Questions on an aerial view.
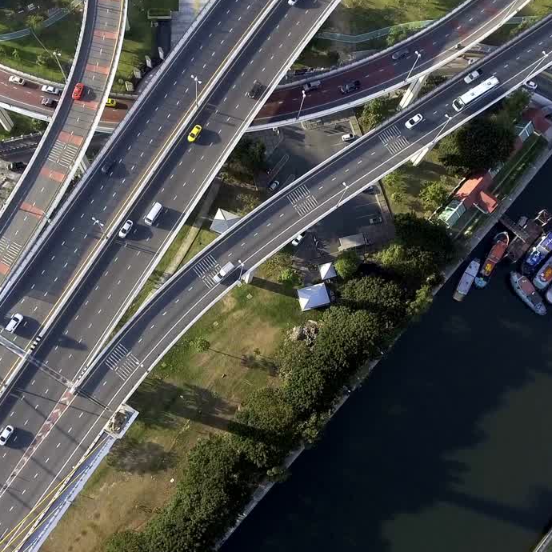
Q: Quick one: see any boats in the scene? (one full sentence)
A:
Yes, I can see a boat in this picture.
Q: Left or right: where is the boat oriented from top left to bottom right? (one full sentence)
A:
The boat oriented from top left to bottom right is on the right side of the image.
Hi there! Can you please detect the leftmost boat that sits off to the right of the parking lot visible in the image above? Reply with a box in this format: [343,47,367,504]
[453,256,480,302]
